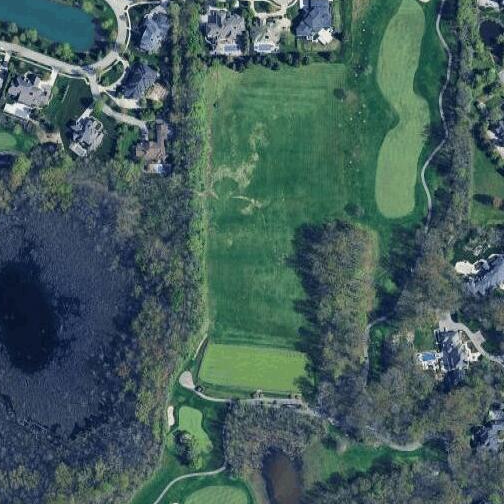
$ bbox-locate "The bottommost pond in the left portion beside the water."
[0,259,61,376]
